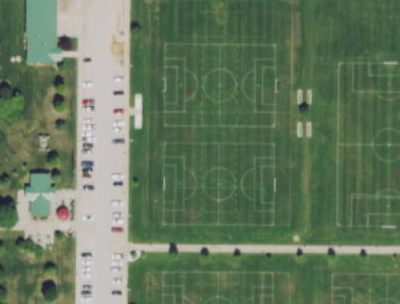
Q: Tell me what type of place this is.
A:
sports ground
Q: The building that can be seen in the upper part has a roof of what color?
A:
green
